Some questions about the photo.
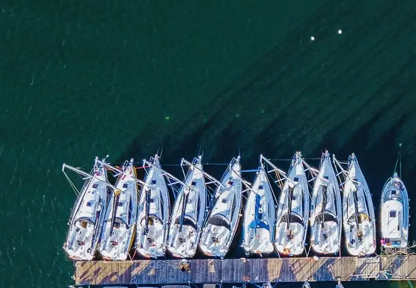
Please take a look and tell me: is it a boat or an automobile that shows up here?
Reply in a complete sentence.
Visible in the photo is a boat.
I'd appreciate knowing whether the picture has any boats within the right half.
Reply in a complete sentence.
Yes, there is a boat within the right half.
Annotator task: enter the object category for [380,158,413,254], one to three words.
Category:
boat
